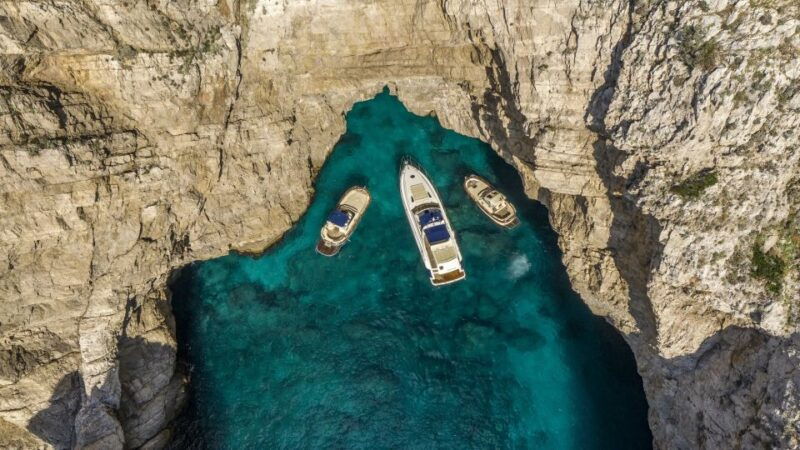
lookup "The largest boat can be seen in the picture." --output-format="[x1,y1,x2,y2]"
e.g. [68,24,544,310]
[402,156,465,290]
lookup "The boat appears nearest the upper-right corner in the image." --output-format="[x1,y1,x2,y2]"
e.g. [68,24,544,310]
[463,174,520,230]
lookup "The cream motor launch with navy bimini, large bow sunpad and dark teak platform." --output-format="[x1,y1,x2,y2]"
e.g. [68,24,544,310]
[314,185,370,259]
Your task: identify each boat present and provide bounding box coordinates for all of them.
[463,174,520,230]
[402,156,465,290]
[314,185,370,259]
